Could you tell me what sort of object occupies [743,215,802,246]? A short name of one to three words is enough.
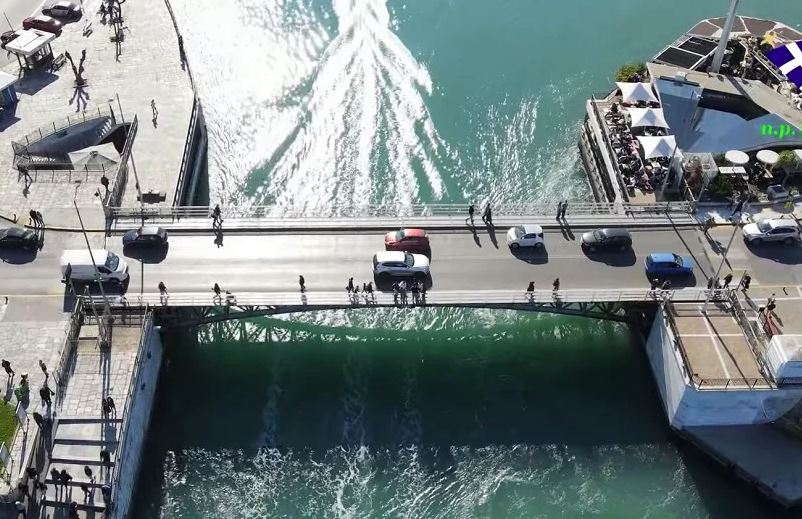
car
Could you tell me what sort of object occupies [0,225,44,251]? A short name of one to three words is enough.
car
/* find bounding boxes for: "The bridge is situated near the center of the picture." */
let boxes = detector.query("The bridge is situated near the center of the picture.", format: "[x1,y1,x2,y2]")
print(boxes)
[83,203,706,350]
